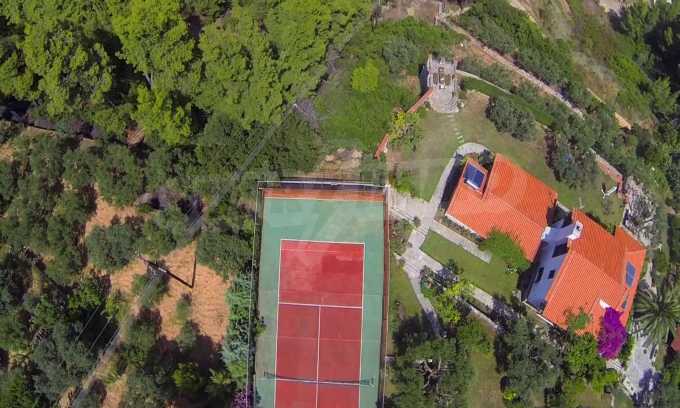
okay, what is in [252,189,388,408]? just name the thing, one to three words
tennis court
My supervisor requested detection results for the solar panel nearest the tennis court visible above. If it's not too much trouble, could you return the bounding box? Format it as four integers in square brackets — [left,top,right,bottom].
[464,163,487,191]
